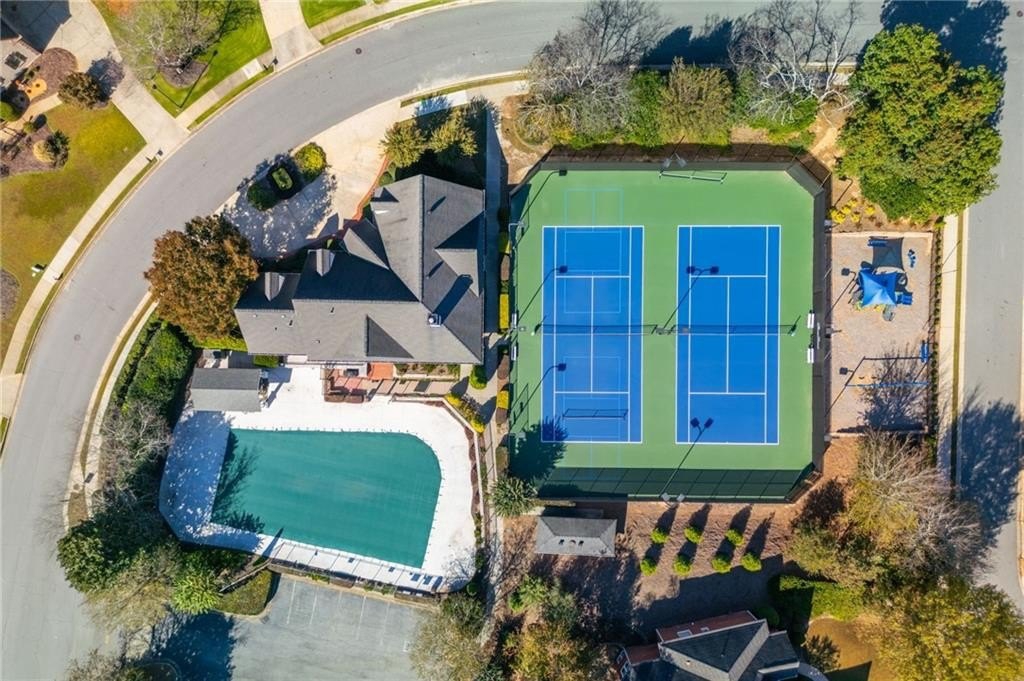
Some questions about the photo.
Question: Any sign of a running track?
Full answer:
No, no running track is visible in the scene.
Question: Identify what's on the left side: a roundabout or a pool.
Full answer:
There is a pool on the left side.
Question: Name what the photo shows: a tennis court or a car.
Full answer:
The one in the frame is a tennis court.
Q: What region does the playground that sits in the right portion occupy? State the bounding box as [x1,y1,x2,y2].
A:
[830,232,933,433]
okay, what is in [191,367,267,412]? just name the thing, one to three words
building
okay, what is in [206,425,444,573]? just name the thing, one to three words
swimming pool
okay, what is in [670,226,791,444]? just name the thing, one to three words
tennis court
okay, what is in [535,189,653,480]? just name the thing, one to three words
tennis court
